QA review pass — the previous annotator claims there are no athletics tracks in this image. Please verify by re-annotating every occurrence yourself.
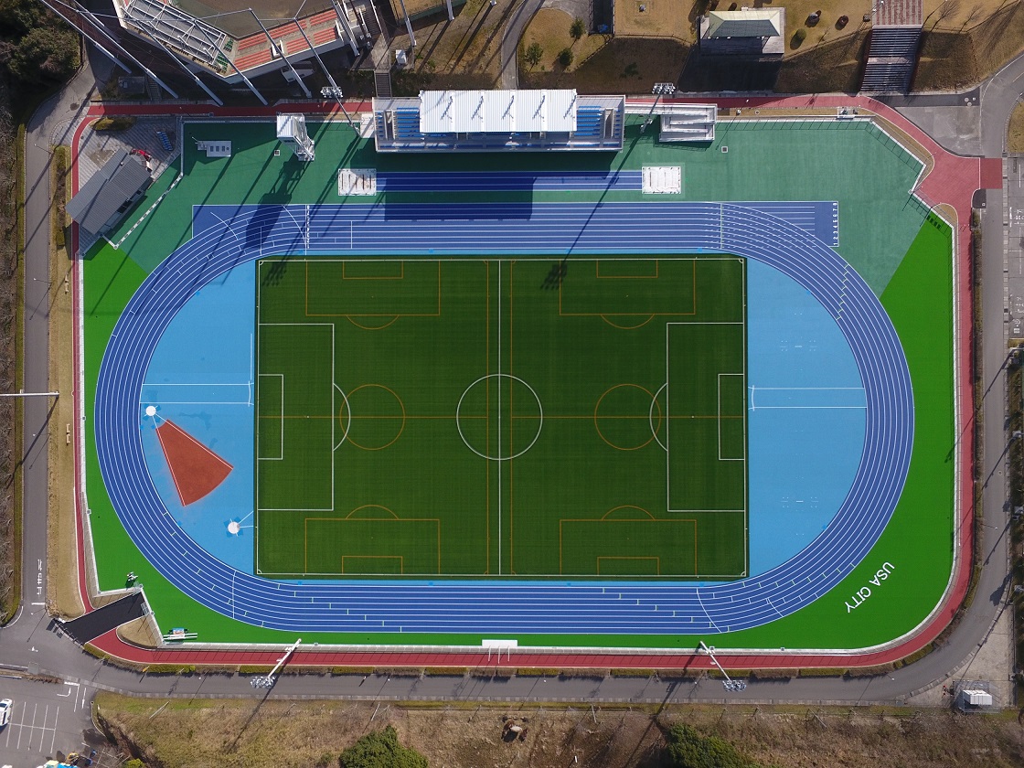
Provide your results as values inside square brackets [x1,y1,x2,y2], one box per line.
[93,202,916,634]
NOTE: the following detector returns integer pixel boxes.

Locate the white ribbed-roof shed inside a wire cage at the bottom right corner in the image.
[964,689,997,705]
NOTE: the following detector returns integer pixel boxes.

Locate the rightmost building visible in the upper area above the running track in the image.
[699,6,785,56]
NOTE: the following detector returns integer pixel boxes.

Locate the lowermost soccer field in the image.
[253,254,749,581]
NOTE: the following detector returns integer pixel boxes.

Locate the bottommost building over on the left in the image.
[66,148,160,259]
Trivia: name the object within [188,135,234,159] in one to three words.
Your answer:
shed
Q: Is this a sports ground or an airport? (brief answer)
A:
sports ground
